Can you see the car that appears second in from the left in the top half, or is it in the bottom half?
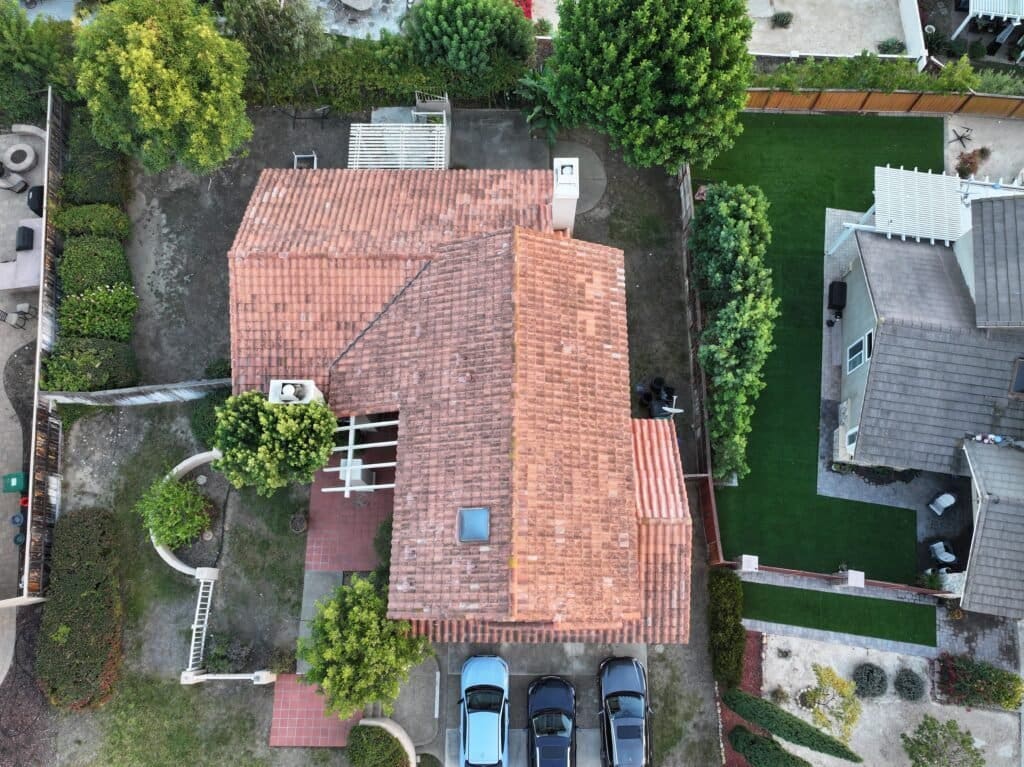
bottom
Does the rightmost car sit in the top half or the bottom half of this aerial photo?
bottom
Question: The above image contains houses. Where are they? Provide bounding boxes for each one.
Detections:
[841,193,1024,617]
[227,158,693,646]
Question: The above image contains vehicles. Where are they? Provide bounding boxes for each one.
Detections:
[455,655,513,767]
[524,676,583,767]
[600,656,659,767]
